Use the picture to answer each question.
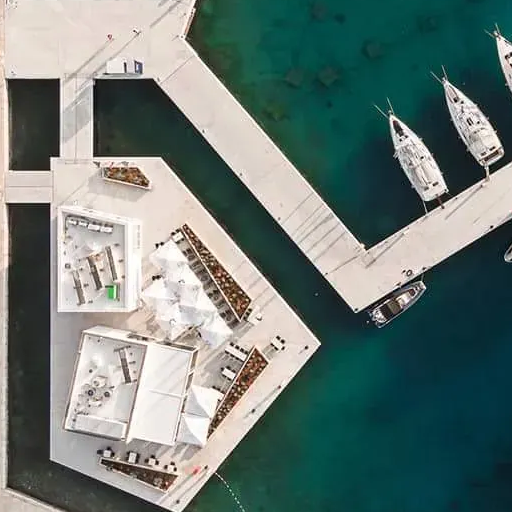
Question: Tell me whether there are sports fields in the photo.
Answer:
No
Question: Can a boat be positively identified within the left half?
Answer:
No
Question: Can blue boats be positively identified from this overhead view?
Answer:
No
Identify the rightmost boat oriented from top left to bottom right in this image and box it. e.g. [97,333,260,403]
[432,67,508,170]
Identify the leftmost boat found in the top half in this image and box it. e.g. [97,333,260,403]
[381,101,454,214]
